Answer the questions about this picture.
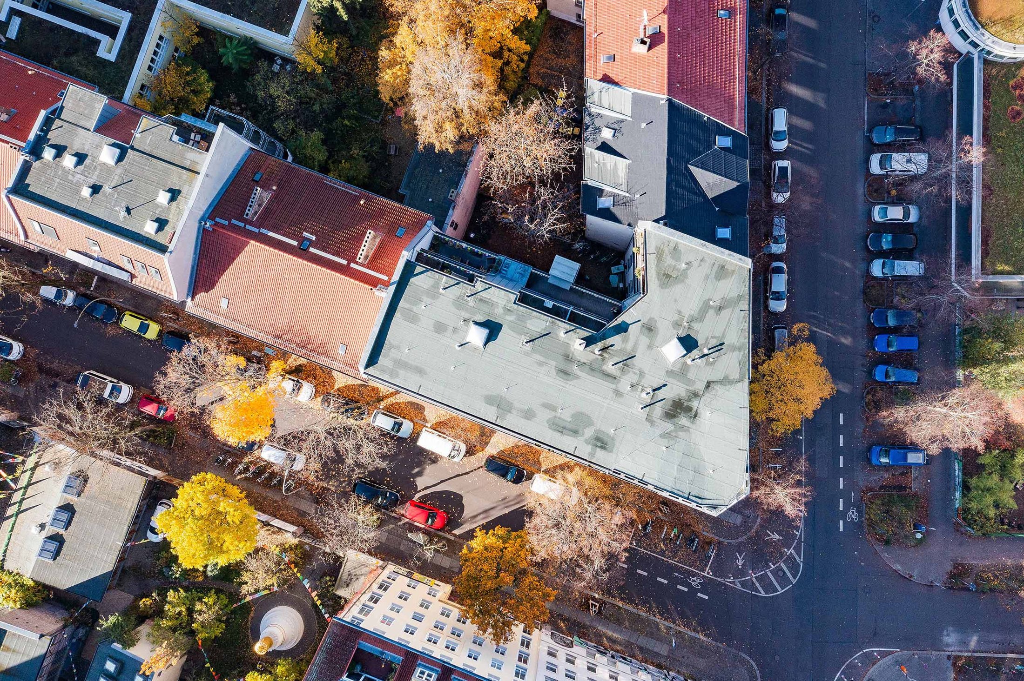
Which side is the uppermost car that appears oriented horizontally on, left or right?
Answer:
right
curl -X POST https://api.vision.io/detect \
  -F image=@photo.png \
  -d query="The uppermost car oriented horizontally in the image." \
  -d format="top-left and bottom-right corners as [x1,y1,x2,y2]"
[867,122,921,146]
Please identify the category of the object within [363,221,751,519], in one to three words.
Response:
building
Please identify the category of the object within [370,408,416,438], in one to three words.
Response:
car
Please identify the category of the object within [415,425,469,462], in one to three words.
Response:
vehicle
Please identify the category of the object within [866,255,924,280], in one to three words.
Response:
car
